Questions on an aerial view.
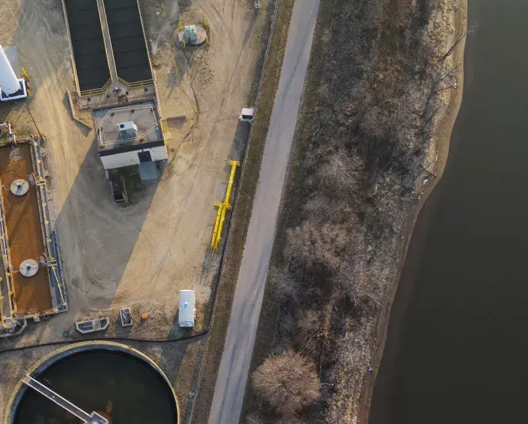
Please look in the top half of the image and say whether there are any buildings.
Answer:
Yes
